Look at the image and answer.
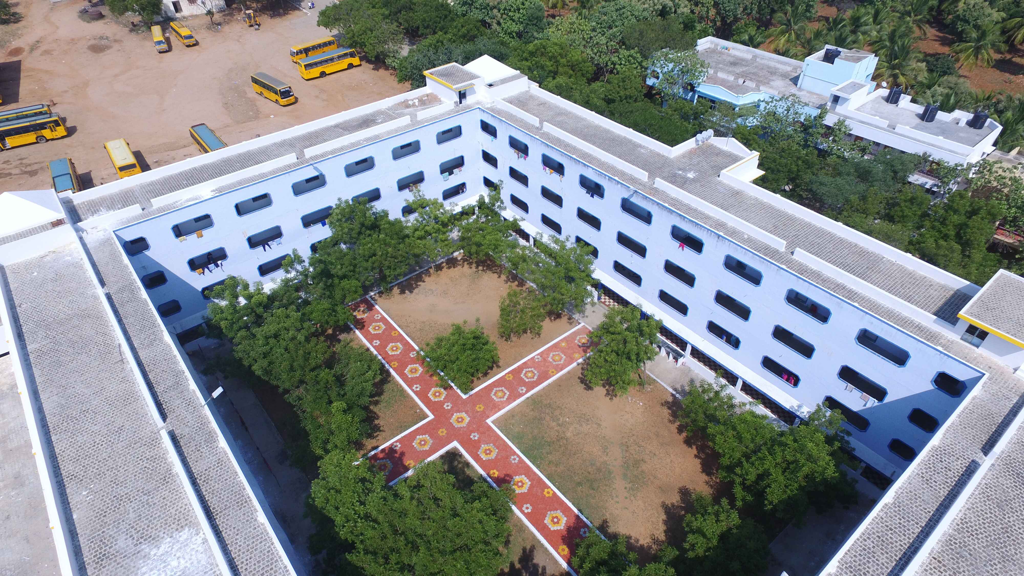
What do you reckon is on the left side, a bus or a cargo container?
bus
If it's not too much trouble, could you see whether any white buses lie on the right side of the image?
No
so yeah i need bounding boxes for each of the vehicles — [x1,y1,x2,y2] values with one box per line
[188,124,225,152]
[0,107,66,151]
[247,74,295,107]
[286,33,336,62]
[46,159,83,205]
[104,140,140,176]
[238,7,259,28]
[150,26,167,51]
[170,22,194,46]
[292,45,356,76]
